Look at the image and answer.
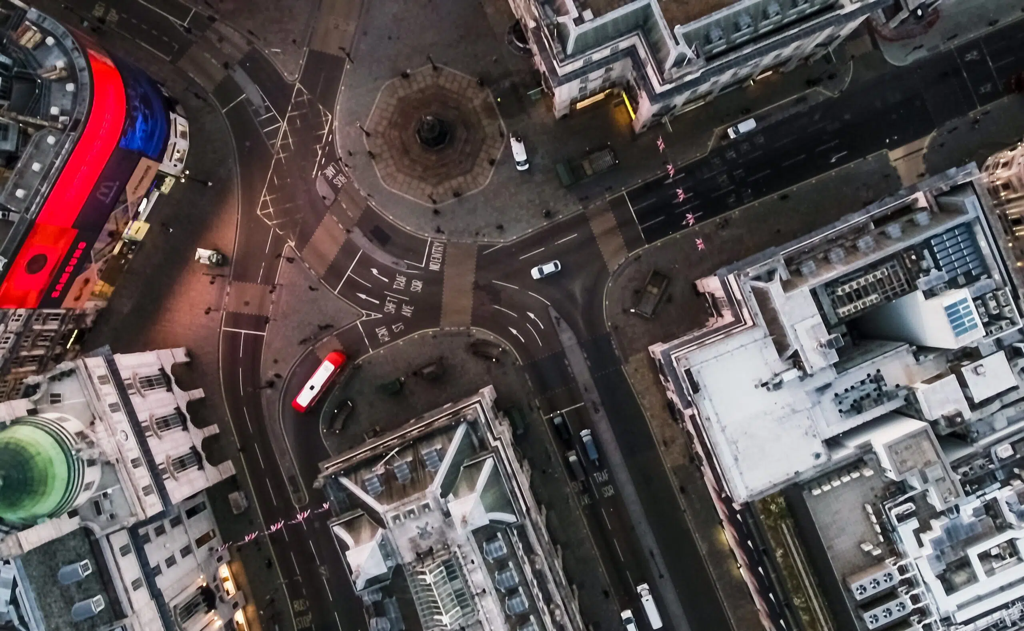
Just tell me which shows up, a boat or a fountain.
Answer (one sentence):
The one in the frame is a fountain.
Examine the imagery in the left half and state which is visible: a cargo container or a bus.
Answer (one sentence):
The one visible in the left half is a bus.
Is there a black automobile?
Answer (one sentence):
Yes, a black automobile can be made out from above.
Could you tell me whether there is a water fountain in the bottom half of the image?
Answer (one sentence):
No, the scene shows no water fountain in the bottom half of the image.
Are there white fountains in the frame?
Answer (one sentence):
No, I can't see a single white fountain in this photo.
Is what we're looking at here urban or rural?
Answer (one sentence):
This place is urban.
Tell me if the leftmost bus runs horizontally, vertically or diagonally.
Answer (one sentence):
The leftmost bus is oriented diagonally.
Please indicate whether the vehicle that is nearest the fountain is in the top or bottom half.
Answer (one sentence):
It is in the top half that the vehicle that is nearest the fountain appears.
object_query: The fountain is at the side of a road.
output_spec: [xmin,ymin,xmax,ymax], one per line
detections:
[359,59,508,208]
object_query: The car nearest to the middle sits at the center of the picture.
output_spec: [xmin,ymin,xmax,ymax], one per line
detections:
[529,259,563,280]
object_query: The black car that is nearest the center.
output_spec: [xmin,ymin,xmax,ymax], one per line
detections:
[549,409,571,443]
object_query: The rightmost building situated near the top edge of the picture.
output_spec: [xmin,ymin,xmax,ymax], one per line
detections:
[856,0,950,52]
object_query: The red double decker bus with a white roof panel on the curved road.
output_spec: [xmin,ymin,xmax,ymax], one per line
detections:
[291,346,355,414]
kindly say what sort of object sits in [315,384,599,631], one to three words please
building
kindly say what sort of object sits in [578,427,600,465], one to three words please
truck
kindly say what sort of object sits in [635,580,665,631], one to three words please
van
